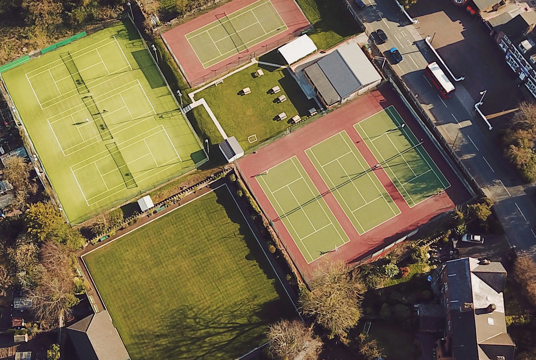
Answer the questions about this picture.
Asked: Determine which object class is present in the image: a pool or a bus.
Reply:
bus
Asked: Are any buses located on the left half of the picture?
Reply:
No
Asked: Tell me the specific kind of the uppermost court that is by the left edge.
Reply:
tennis court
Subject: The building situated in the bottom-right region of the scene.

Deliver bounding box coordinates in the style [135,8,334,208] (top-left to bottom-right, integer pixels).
[417,254,512,360]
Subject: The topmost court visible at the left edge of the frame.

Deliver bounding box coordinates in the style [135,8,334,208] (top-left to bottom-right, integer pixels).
[26,36,132,109]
